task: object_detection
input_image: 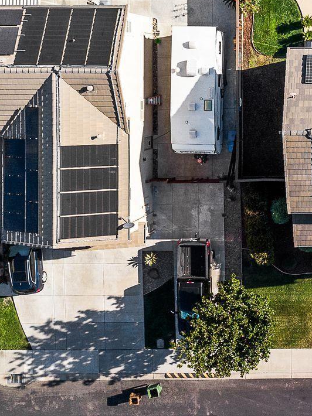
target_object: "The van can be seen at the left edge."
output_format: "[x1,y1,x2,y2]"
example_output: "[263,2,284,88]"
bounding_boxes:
[6,243,50,299]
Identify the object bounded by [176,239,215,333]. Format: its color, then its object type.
black truck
